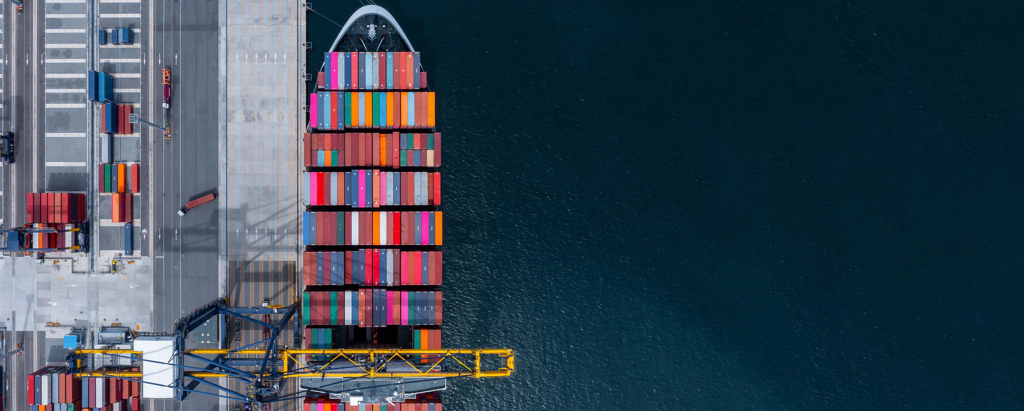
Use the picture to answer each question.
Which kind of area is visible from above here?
port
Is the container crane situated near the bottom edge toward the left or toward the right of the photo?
left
